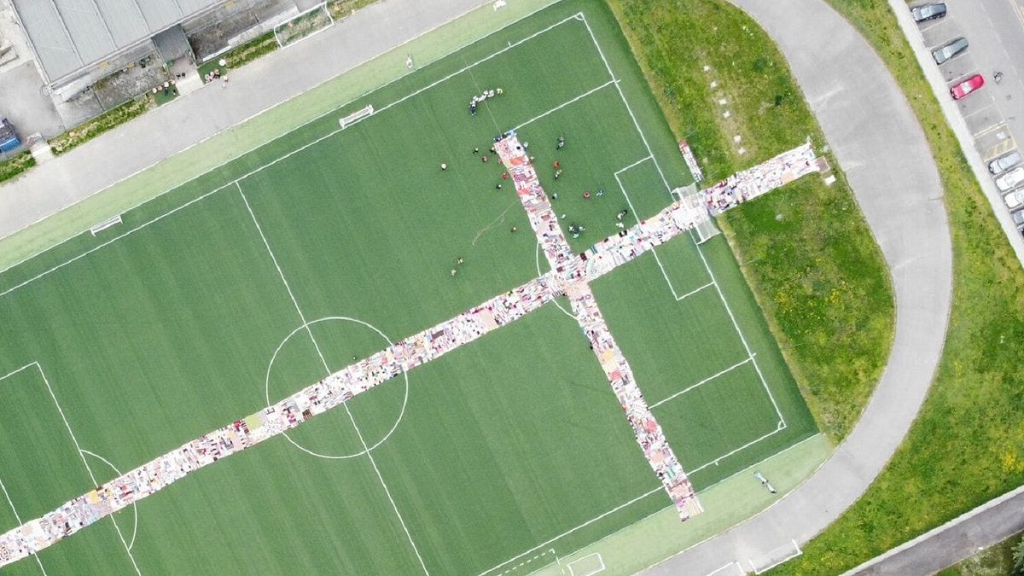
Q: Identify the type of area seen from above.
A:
sports ground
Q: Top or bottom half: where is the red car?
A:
top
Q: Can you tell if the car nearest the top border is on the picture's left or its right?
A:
right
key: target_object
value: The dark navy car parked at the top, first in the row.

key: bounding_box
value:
[914,0,952,23]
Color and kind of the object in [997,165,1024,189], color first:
white car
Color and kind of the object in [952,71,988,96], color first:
red car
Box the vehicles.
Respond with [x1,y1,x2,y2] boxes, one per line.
[952,71,988,96]
[914,0,952,23]
[1005,185,1024,206]
[997,165,1024,189]
[993,70,1007,84]
[990,147,1024,173]
[1014,207,1024,223]
[935,36,971,61]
